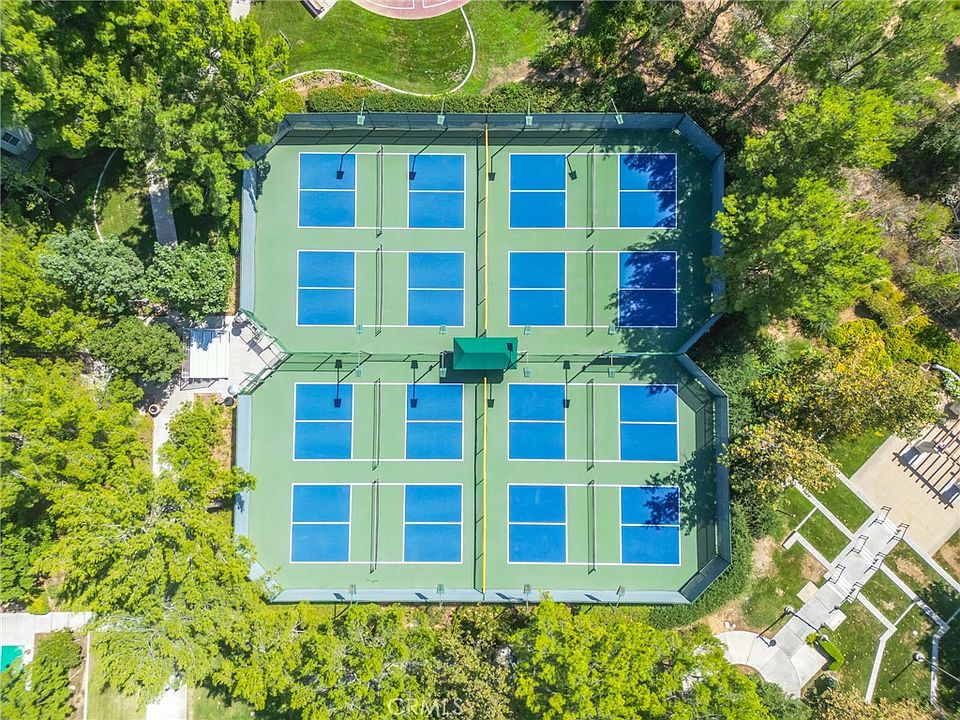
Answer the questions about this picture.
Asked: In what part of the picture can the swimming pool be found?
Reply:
bottom left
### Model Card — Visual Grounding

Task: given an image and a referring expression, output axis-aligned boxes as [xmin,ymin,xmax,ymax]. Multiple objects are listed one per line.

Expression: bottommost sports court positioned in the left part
[290,483,463,564]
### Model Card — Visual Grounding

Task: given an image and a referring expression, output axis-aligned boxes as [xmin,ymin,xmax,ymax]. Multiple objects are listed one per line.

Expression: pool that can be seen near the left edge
[0,641,29,700]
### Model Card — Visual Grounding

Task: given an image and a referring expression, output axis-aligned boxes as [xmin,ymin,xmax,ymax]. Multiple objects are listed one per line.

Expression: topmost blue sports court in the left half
[297,152,466,229]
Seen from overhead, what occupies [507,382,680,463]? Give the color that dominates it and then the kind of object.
blue sports court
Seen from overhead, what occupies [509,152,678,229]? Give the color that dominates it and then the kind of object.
blue sports court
